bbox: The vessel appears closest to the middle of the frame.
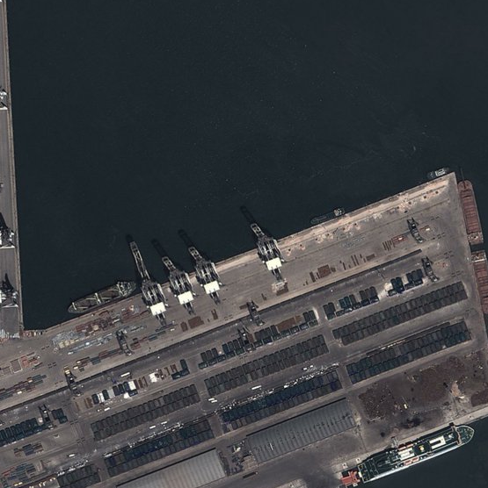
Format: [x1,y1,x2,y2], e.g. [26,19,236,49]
[310,208,346,223]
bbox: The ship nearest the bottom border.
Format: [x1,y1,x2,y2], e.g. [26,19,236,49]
[358,427,475,483]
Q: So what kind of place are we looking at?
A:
port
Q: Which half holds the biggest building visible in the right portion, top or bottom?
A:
bottom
